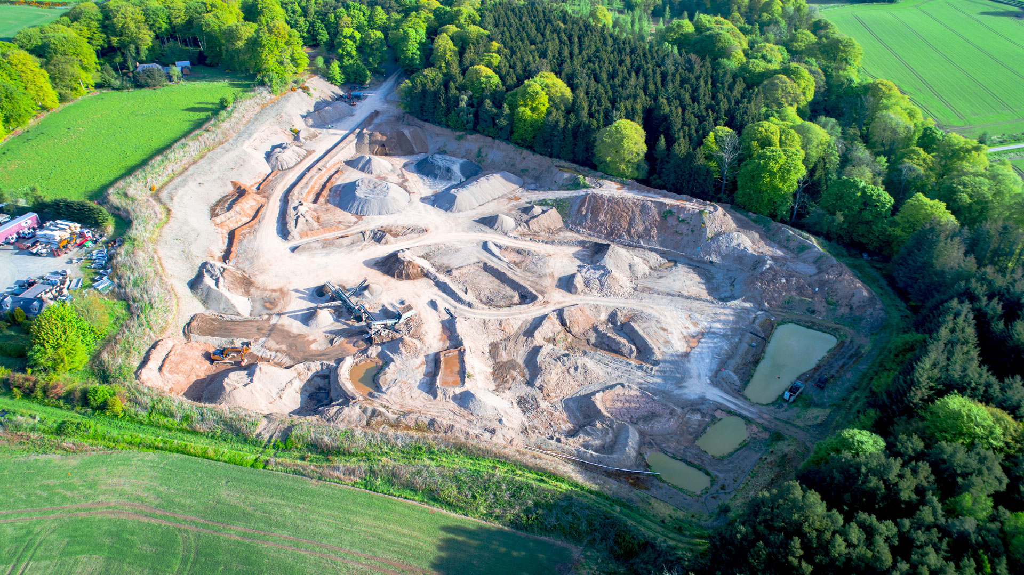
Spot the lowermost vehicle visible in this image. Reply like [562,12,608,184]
[783,376,808,403]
